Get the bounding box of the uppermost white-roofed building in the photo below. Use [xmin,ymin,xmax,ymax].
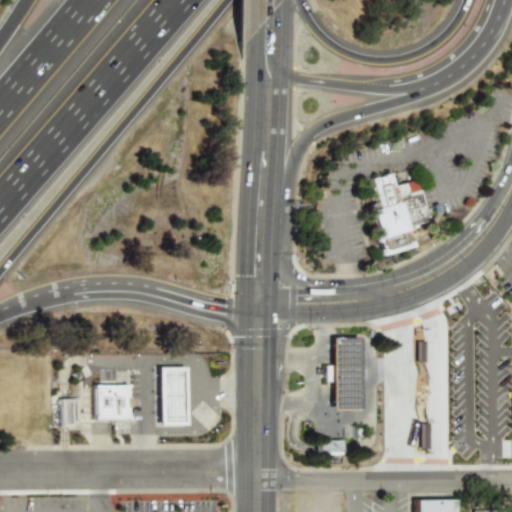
[374,170,431,257]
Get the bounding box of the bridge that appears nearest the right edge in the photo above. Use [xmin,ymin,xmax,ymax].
[243,0,296,66]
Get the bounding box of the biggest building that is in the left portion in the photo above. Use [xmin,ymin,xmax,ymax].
[94,382,132,420]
